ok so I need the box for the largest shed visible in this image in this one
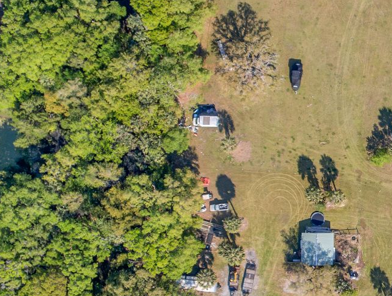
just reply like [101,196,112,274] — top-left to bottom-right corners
[299,226,334,264]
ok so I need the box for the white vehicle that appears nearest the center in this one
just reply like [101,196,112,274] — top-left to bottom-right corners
[194,114,220,127]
